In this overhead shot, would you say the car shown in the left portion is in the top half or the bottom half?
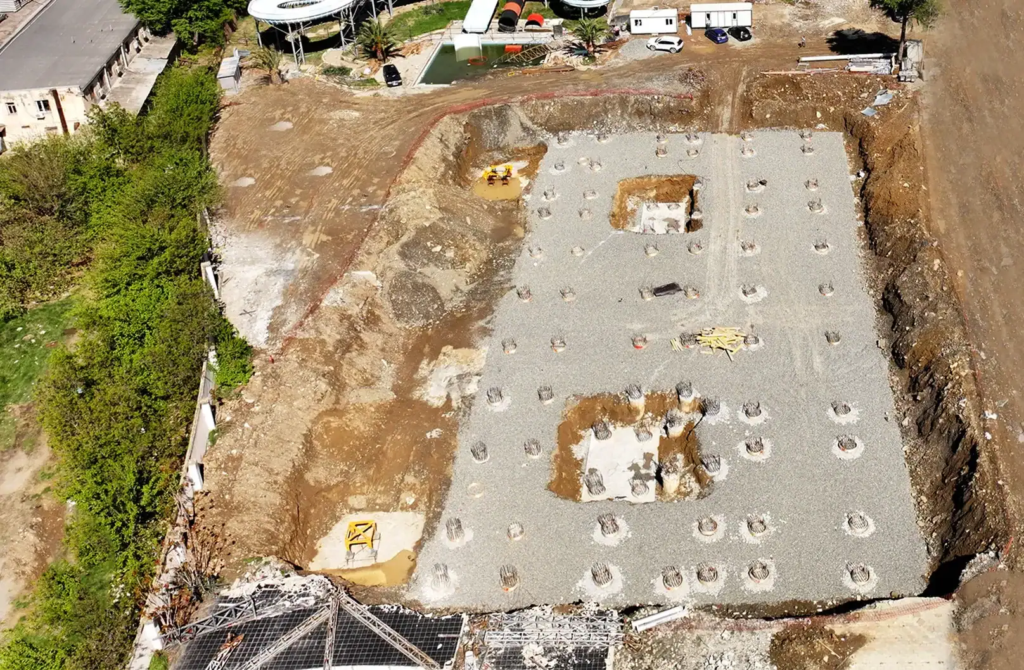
top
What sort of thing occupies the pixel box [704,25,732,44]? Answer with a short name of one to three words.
car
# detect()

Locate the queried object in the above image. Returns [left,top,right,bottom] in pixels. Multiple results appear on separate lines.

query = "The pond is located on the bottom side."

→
[329,550,416,587]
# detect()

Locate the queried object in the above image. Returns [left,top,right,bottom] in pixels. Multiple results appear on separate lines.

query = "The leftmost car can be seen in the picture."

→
[379,62,402,85]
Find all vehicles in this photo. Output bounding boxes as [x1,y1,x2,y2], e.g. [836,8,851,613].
[645,32,685,52]
[379,62,402,85]
[725,22,755,41]
[704,25,732,44]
